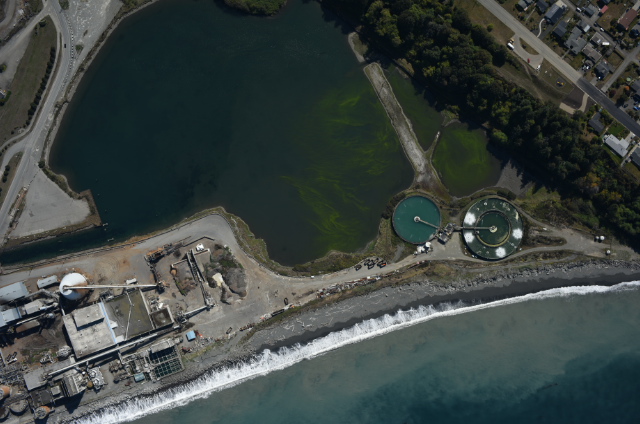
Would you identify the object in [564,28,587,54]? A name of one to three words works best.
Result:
house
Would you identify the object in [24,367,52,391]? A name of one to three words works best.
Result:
building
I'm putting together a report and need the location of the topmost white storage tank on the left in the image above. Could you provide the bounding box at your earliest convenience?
[57,272,90,302]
